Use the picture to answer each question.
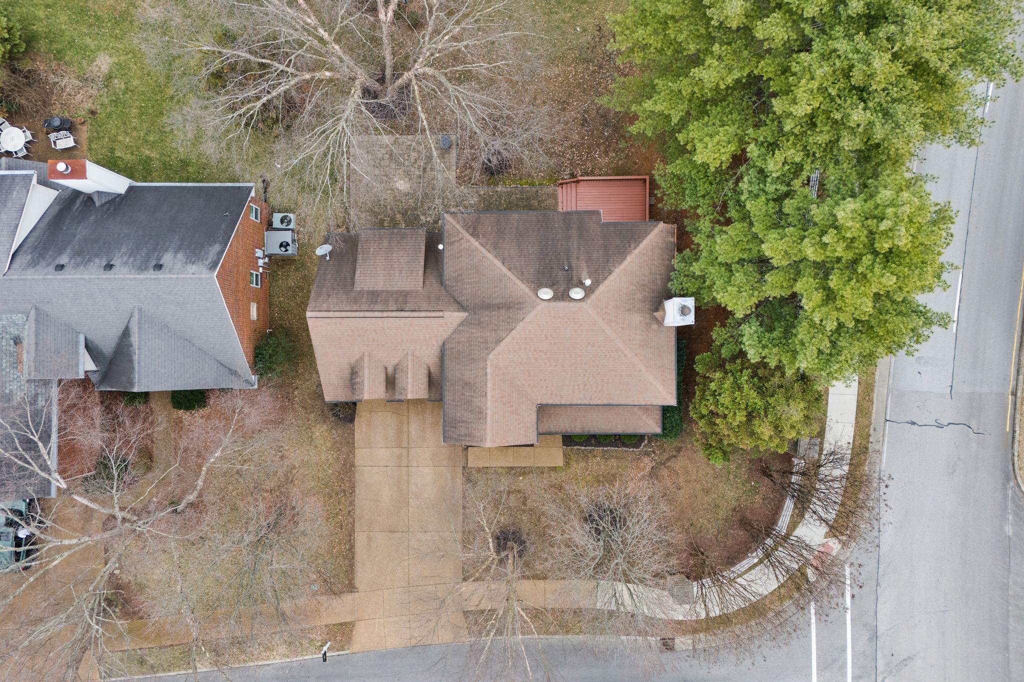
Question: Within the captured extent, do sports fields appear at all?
No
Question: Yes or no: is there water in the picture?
No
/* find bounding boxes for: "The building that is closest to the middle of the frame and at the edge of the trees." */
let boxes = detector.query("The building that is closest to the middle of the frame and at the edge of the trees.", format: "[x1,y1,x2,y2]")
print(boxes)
[306,209,696,449]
